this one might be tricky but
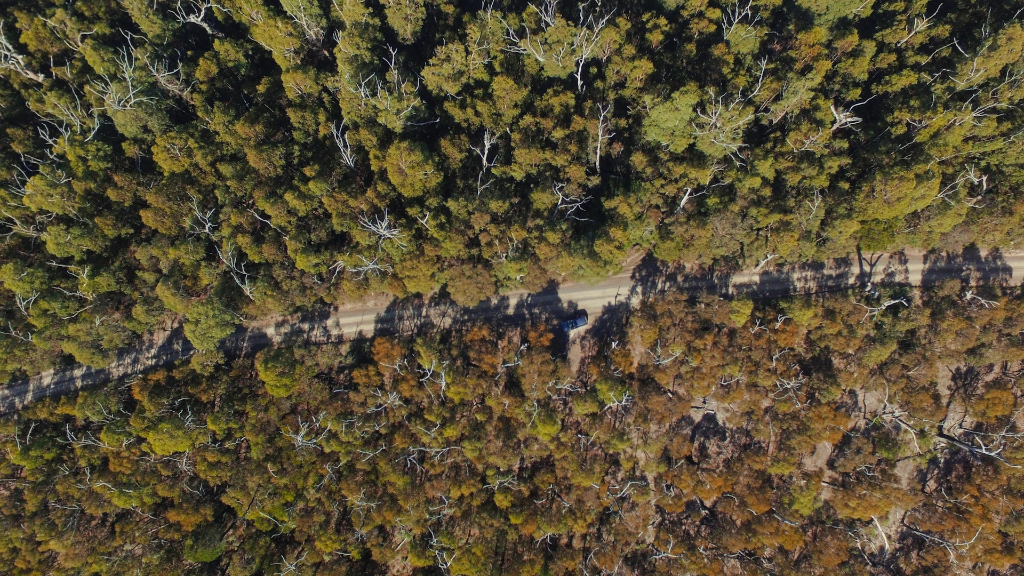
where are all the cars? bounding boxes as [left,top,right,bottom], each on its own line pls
[559,313,589,331]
